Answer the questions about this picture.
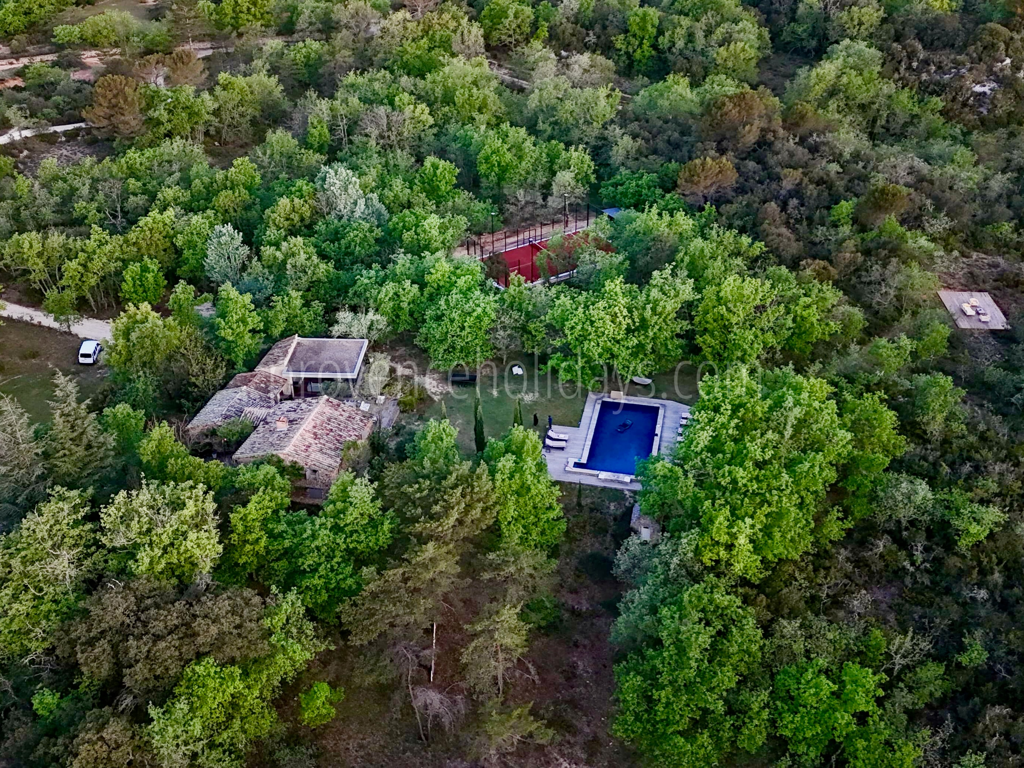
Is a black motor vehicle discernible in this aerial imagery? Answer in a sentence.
No, there's no black motor vehicle here.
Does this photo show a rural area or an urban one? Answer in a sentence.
It looks rural.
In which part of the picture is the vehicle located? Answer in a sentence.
Look in the left portion of the view to spot the vehicle.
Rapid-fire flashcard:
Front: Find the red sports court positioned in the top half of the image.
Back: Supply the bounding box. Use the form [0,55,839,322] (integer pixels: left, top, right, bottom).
[472,201,635,287]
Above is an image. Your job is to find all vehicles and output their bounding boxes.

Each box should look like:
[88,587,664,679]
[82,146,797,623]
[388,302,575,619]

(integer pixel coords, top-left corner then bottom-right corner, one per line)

[77,340,103,364]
